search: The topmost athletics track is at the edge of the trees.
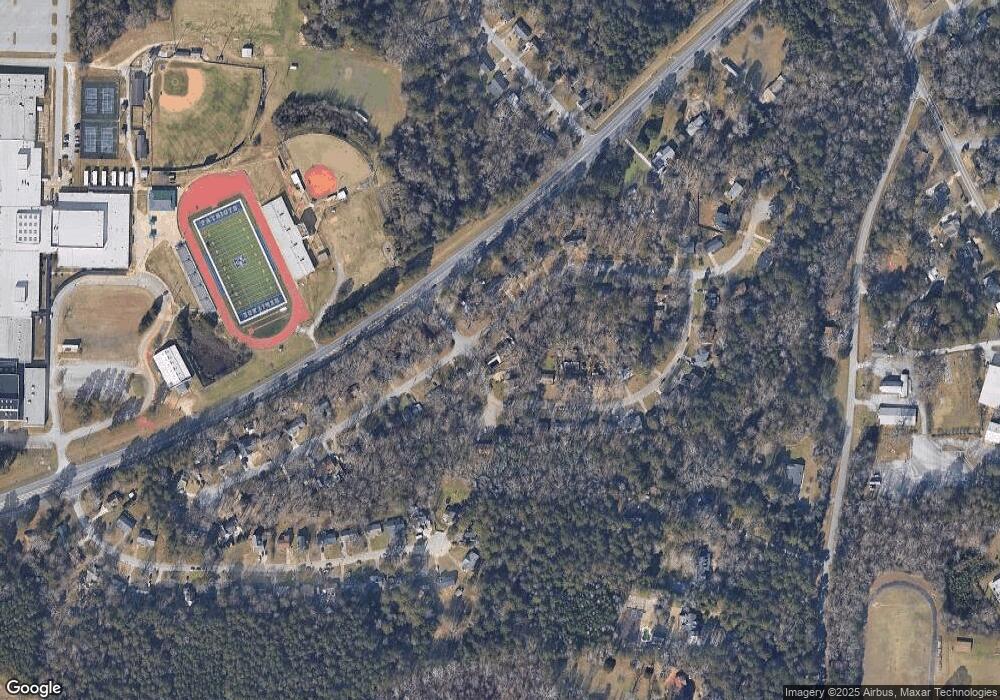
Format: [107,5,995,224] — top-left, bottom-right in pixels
[177,168,310,351]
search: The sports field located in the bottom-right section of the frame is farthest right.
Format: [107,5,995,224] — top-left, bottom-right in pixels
[869,586,933,700]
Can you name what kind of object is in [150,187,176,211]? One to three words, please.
building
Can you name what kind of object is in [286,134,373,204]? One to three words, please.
baseball field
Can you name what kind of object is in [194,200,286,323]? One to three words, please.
sports field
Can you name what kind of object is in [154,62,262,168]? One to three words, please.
baseball field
